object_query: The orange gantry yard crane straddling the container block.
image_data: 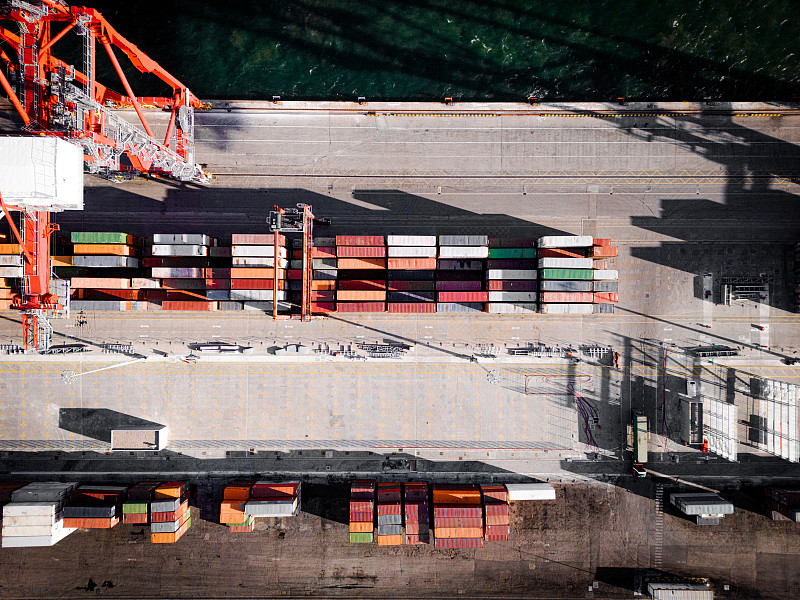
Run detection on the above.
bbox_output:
[259,197,339,326]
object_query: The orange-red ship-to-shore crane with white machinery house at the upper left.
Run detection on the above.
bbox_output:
[0,0,215,345]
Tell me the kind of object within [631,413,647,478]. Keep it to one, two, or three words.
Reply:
vehicle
